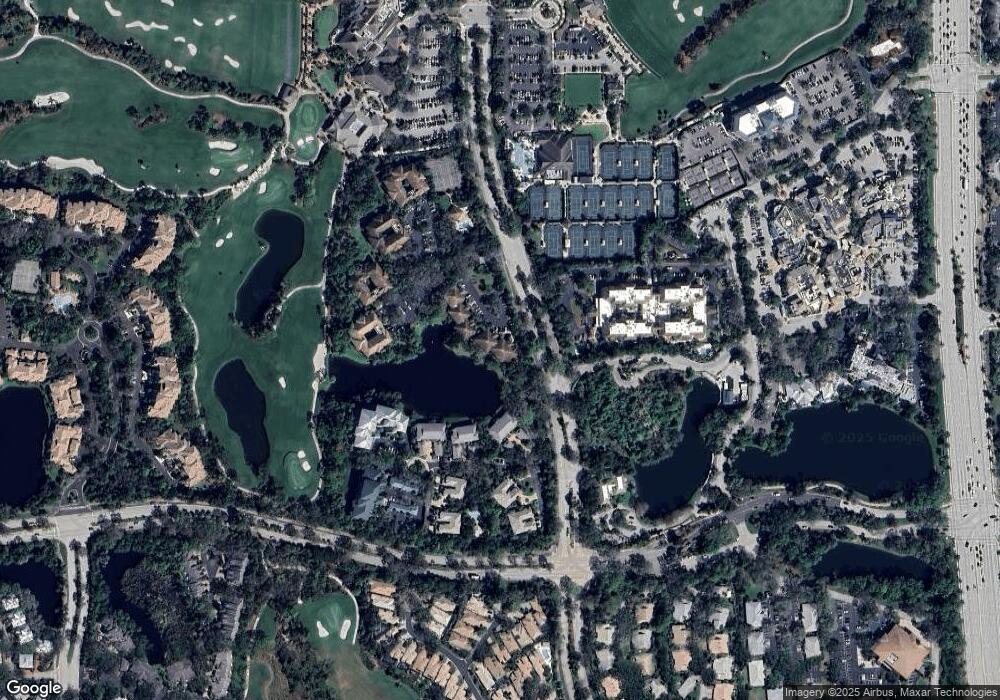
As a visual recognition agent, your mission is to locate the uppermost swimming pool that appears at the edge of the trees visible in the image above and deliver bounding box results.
[508,138,536,186]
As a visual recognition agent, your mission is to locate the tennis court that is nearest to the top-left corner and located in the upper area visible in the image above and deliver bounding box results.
[13,260,41,293]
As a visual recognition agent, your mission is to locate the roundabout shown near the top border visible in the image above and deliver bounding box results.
[530,0,562,28]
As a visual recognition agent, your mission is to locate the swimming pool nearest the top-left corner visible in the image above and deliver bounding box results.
[48,288,78,313]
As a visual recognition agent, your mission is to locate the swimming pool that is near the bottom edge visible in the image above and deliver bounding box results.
[534,638,552,671]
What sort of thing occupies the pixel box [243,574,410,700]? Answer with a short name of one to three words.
golf course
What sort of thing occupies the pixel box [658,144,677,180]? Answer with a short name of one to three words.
tennis court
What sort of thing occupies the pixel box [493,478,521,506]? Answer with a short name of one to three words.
house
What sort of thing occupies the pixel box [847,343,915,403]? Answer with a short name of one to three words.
building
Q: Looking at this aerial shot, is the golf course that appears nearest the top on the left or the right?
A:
right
